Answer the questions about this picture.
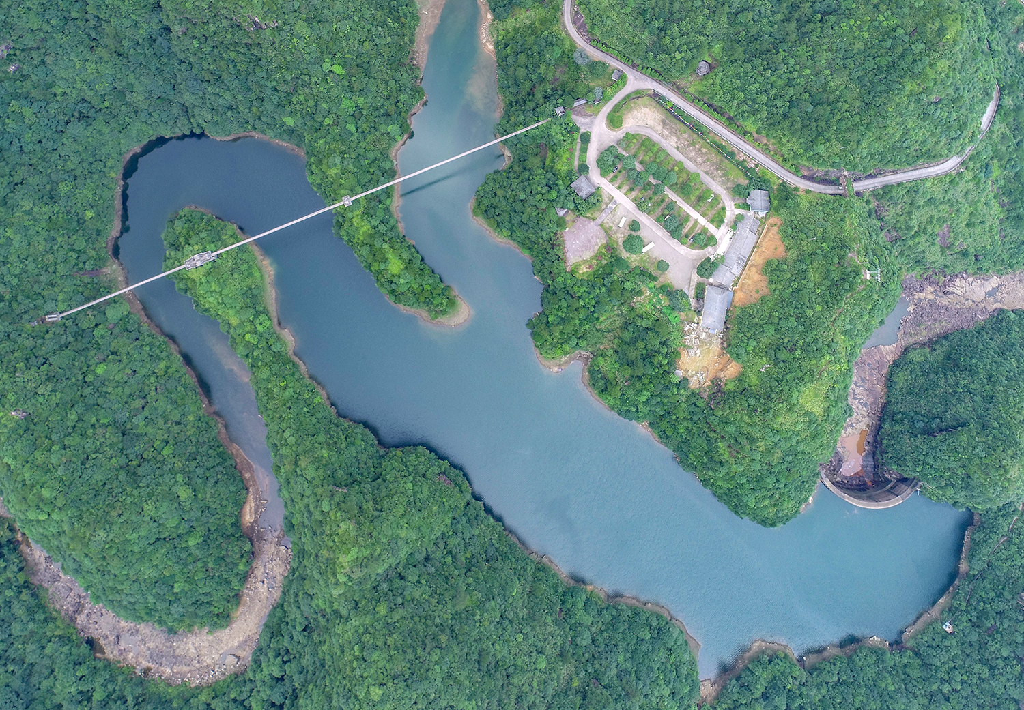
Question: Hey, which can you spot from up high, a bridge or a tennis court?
bridge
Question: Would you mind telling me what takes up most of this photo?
trees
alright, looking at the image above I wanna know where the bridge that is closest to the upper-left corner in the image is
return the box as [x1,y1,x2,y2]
[47,110,555,319]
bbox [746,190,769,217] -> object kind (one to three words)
house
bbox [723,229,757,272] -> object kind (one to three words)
building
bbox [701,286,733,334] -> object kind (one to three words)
building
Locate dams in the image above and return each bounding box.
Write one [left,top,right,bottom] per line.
[808,463,920,509]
